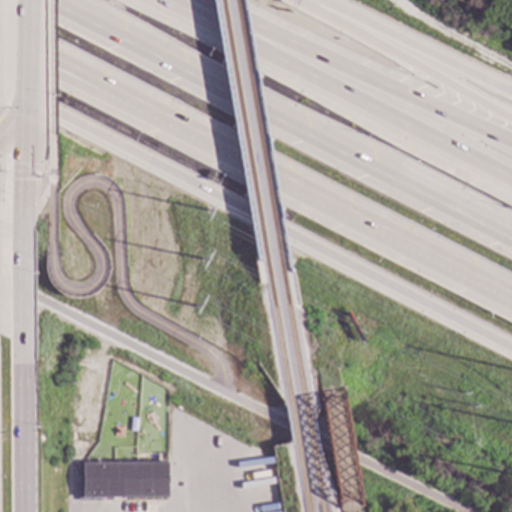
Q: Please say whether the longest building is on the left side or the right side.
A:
left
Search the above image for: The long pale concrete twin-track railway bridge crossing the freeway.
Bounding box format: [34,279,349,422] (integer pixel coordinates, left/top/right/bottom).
[216,0,294,270]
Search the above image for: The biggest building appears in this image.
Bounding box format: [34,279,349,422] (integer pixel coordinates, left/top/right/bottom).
[85,462,168,500]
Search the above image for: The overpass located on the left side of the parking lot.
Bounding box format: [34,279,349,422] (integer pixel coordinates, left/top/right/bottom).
[0,0,59,512]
